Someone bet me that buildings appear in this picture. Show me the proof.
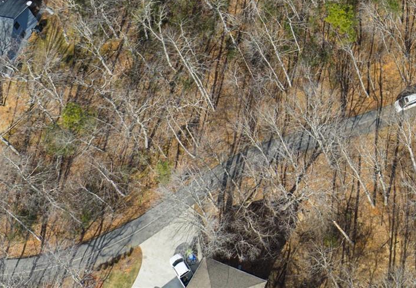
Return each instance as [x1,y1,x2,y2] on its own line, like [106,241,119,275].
[187,257,267,288]
[0,0,50,71]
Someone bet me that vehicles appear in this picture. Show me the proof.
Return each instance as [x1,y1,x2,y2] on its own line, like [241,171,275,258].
[396,92,416,111]
[167,251,193,288]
